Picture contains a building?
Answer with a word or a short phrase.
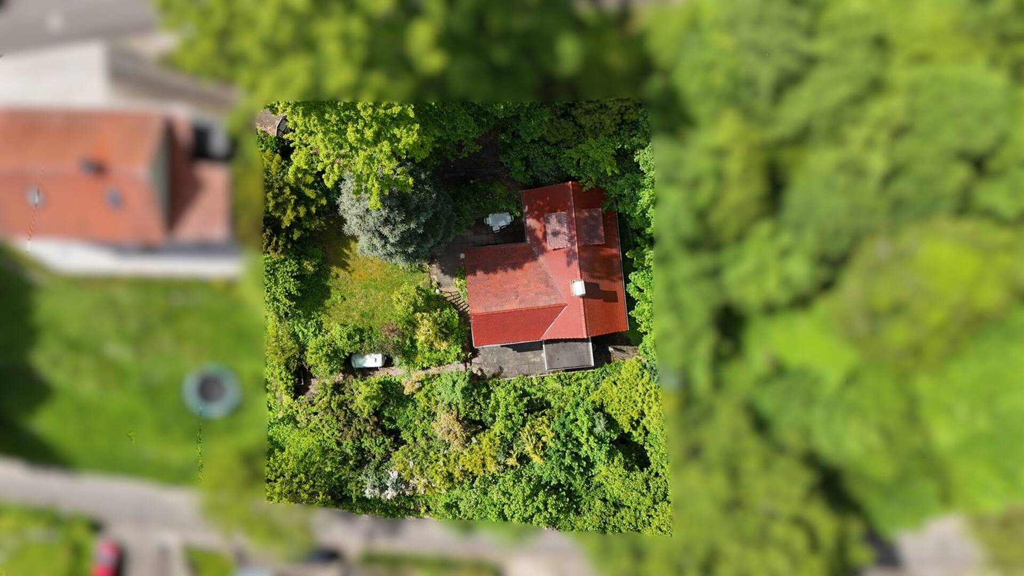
Yes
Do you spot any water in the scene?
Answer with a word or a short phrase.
No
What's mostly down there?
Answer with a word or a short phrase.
trees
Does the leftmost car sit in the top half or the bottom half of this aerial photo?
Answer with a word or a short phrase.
bottom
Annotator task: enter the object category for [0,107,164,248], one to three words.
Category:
house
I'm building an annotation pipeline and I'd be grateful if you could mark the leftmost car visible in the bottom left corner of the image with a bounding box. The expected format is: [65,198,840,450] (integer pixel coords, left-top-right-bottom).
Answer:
[91,533,125,576]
